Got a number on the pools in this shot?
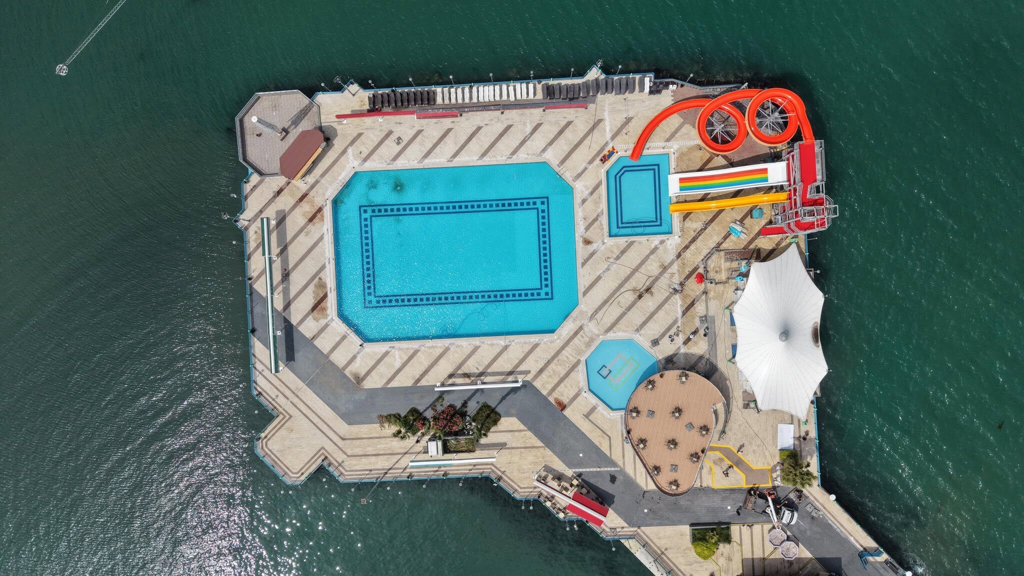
three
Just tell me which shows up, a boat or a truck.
truck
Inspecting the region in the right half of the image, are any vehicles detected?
Yes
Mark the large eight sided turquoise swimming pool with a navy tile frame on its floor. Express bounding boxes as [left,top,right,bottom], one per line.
[325,155,585,349]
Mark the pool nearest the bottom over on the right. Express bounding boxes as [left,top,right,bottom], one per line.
[579,332,664,417]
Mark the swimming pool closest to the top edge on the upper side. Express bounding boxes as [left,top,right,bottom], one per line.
[601,148,677,242]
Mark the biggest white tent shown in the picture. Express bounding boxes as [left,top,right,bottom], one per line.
[728,240,828,425]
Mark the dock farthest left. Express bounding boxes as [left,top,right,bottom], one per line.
[622,541,668,576]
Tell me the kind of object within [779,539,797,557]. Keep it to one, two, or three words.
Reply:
umbrella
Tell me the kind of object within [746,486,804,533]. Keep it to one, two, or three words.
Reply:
truck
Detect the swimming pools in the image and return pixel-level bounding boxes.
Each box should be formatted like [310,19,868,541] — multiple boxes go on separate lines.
[601,148,677,242]
[325,155,585,349]
[579,332,664,417]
